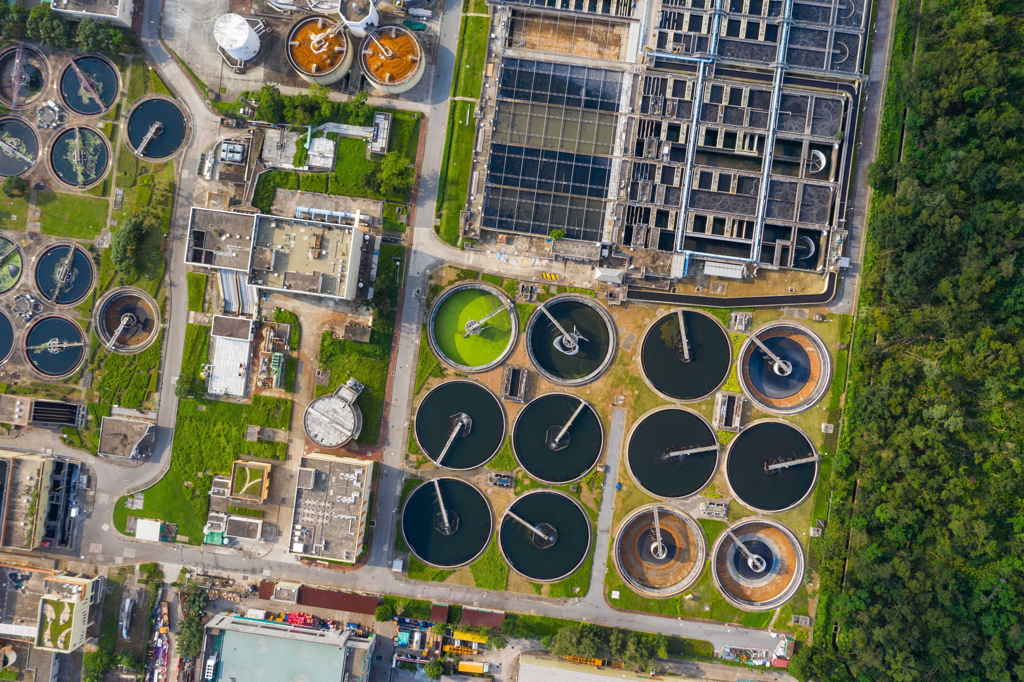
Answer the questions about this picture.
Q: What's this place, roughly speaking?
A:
industrial area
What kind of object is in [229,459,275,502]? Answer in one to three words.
building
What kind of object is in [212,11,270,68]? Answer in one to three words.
storage tank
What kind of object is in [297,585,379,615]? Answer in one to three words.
shed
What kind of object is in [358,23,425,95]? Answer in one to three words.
storage tank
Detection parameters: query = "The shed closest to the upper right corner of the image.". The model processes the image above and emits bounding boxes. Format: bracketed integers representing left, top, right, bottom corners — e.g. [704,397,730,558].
[703,261,744,278]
